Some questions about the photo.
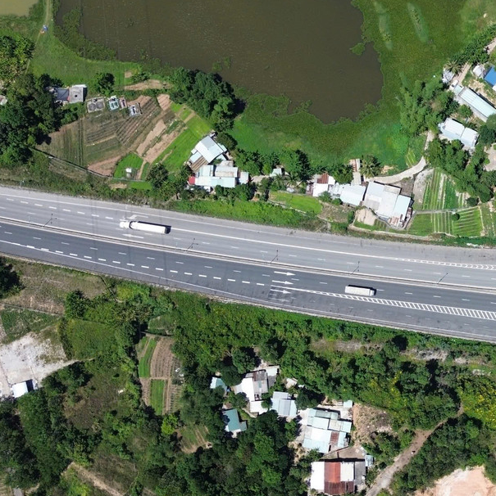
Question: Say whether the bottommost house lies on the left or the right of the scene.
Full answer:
The bottommost house sits on the right side.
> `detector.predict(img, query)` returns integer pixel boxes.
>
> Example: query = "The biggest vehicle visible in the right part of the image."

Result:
[345,286,375,298]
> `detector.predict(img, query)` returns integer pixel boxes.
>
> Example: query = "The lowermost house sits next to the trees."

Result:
[310,455,374,495]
